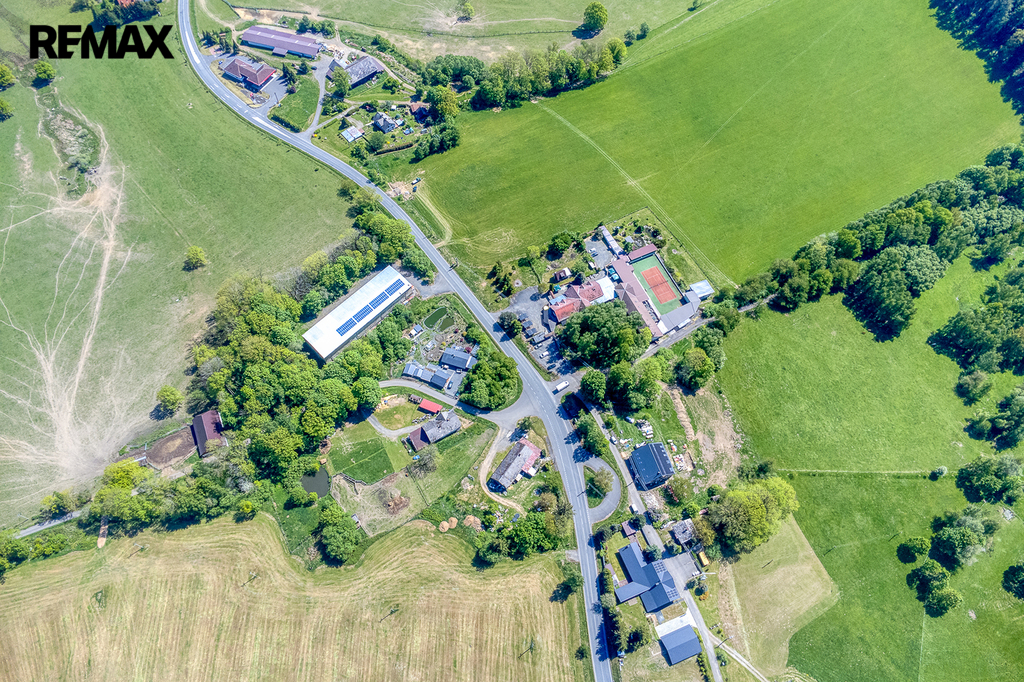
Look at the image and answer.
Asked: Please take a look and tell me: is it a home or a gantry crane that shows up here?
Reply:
home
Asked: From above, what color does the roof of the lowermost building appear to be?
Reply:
blue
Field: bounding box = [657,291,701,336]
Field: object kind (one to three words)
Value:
building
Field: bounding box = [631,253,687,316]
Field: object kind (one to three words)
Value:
tennis court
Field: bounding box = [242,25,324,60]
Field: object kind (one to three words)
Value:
barn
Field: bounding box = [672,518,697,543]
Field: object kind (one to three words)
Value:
house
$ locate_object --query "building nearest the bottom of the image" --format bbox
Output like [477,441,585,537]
[660,625,702,664]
